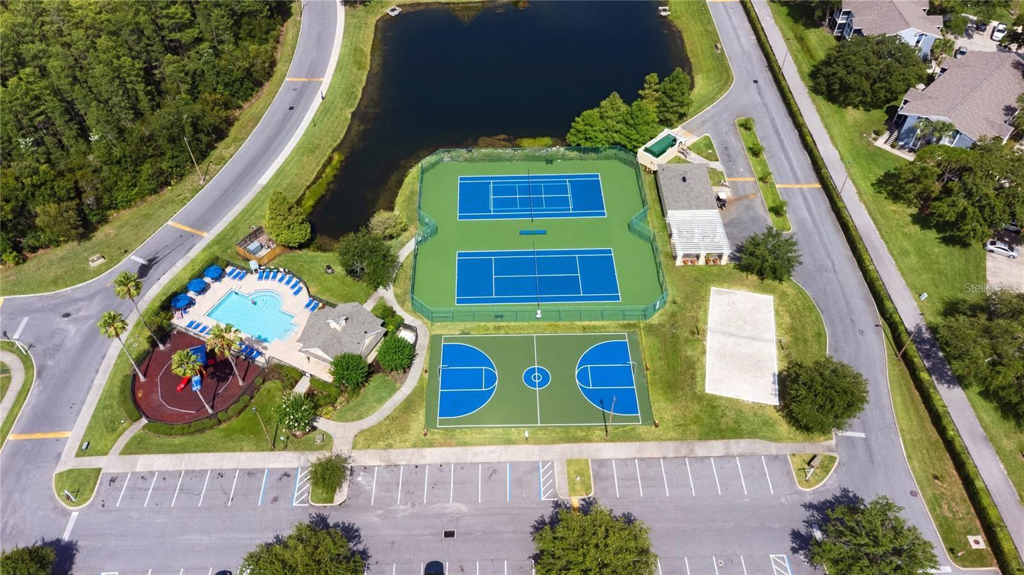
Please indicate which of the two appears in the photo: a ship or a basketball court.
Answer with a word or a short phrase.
basketball court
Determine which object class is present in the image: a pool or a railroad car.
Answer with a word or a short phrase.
pool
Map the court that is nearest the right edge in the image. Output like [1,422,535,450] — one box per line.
[706,287,778,403]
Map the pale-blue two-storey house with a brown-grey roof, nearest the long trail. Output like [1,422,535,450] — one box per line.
[874,49,1024,162]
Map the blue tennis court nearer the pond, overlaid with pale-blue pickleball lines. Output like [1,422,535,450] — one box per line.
[458,168,606,222]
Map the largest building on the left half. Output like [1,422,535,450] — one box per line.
[296,302,387,369]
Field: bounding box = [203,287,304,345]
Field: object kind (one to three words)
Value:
swimming pool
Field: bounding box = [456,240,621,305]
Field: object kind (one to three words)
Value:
tennis court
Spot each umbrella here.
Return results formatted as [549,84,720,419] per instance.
[185,278,210,298]
[169,293,195,314]
[202,265,226,285]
